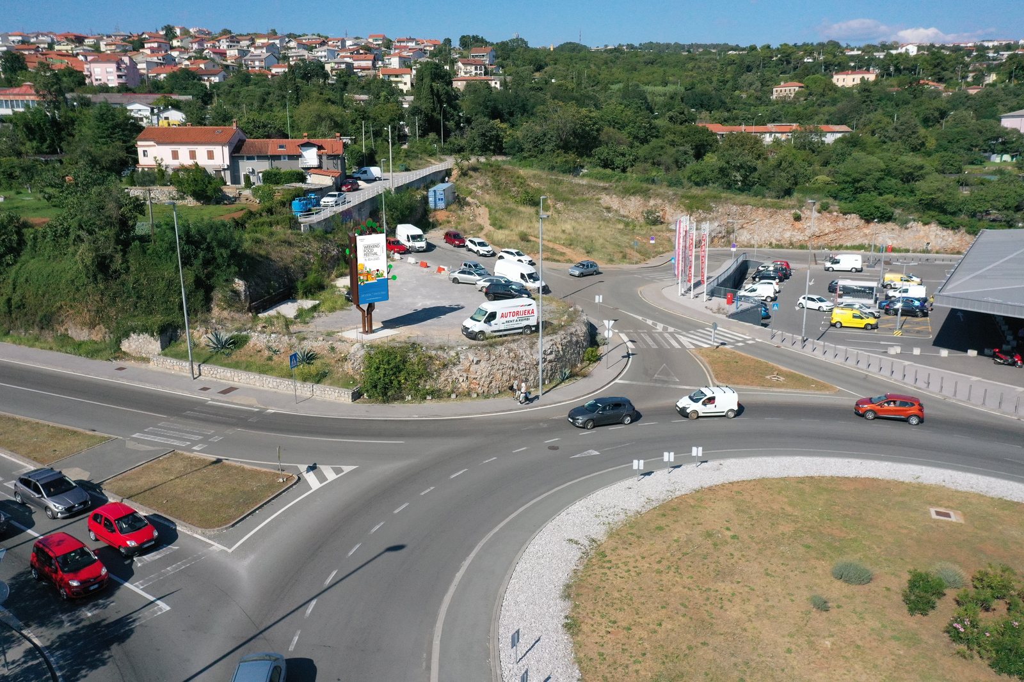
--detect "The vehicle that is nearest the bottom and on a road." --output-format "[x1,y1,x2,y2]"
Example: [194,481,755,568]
[229,649,288,682]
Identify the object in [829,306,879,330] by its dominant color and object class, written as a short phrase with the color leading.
yellow vehicle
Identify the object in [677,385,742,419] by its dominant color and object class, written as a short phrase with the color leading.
white van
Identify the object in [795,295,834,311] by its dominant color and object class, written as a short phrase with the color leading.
white car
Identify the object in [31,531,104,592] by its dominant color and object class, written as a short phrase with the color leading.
red car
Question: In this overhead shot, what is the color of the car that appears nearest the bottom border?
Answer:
blue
